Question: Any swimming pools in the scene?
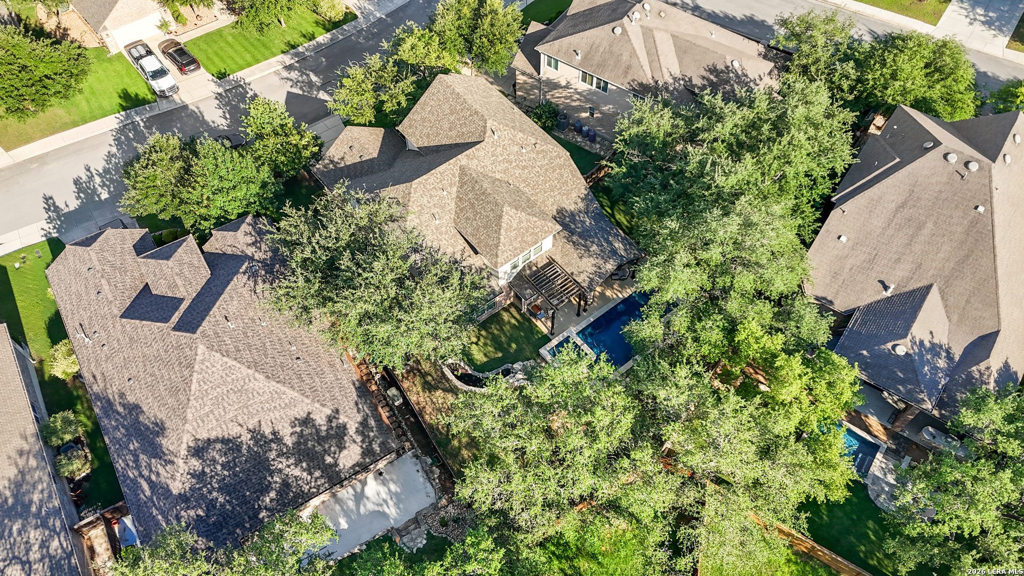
Yes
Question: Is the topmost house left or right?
left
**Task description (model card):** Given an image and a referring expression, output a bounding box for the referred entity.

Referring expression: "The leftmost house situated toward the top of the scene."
[69,0,176,51]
